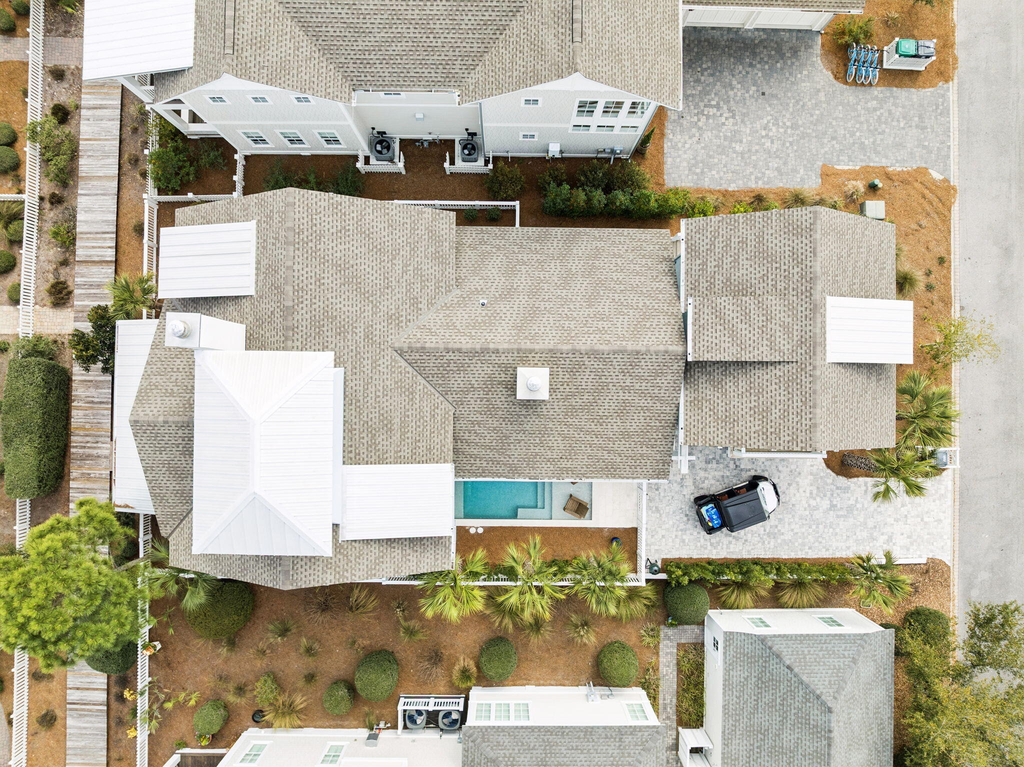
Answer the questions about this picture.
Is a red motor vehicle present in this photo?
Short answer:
No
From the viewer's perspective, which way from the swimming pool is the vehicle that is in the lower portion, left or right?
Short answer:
right of it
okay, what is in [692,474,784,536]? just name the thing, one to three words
vehicle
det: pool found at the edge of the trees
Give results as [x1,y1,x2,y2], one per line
[457,485,592,520]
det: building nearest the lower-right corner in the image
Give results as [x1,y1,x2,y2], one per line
[674,599,897,767]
